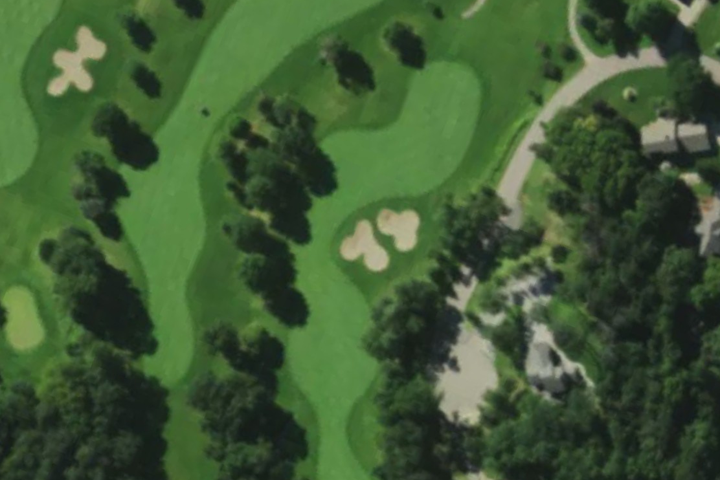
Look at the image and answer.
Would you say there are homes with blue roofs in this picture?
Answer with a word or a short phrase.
No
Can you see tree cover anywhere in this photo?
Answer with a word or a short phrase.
Yes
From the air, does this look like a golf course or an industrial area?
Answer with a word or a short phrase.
golf course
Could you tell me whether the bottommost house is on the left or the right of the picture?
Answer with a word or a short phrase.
right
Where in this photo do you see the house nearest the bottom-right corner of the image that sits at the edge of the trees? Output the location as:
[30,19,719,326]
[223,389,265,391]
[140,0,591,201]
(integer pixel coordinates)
[524,349,572,392]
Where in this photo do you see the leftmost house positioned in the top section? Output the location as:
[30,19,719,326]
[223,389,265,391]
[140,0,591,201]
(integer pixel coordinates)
[640,118,680,156]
